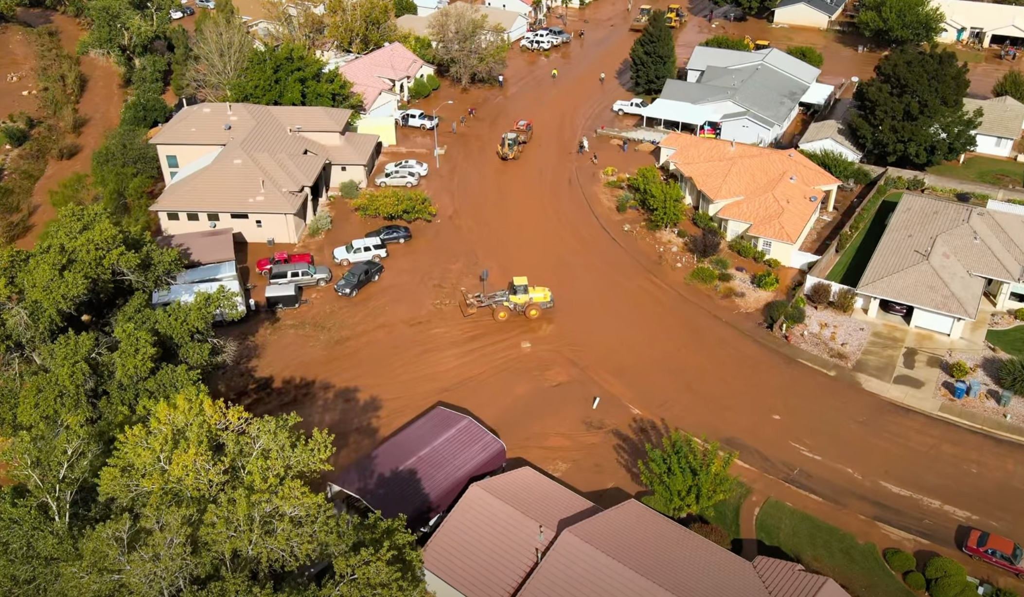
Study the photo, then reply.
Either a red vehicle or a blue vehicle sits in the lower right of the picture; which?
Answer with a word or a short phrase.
red vehicle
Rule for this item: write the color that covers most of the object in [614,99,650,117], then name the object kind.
white vehicle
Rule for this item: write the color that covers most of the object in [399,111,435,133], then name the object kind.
white truck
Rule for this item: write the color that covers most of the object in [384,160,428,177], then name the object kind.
white car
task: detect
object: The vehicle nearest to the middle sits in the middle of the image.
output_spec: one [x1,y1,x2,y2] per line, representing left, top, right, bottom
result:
[456,275,553,324]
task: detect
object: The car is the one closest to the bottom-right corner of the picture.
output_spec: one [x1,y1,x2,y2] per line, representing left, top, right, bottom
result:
[960,530,1024,580]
